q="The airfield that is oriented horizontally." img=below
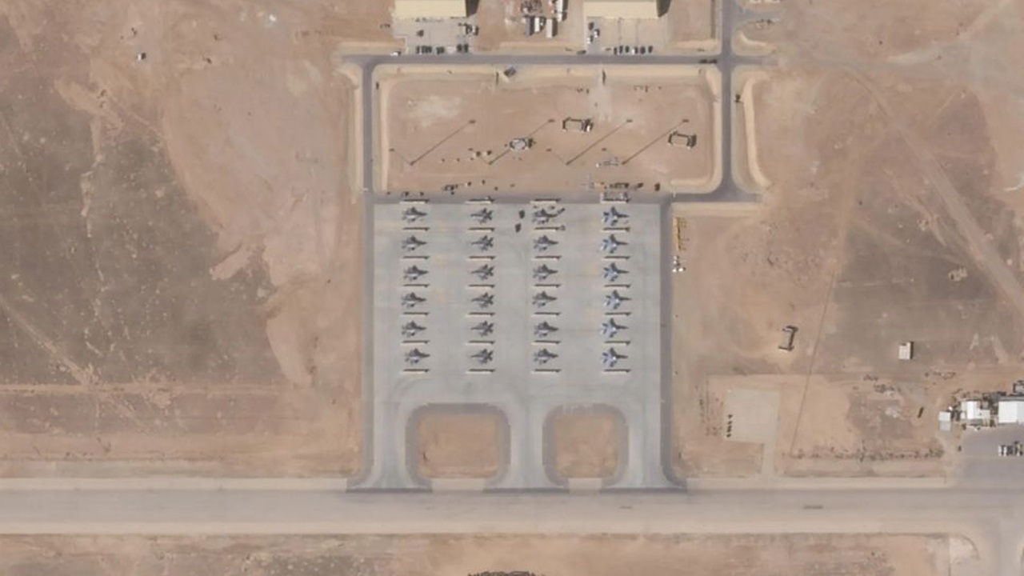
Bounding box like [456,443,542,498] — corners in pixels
[0,192,1024,576]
